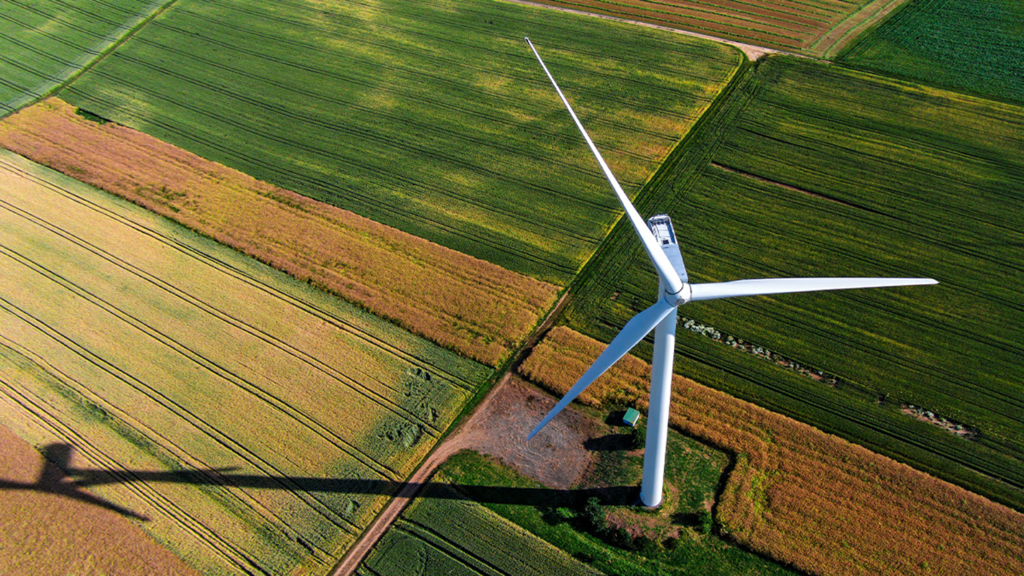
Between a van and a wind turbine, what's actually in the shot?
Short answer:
wind turbine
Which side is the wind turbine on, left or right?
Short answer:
right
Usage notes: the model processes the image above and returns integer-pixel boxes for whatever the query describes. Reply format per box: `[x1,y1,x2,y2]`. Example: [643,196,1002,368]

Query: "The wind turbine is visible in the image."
[527,40,939,510]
